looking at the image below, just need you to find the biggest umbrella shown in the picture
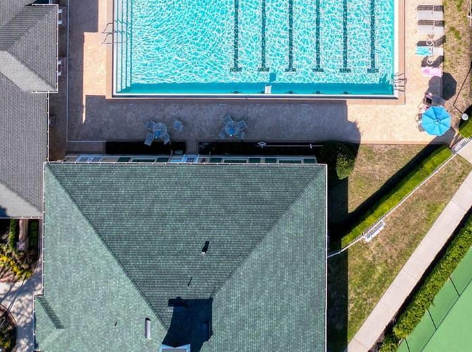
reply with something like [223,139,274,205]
[418,103,453,137]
